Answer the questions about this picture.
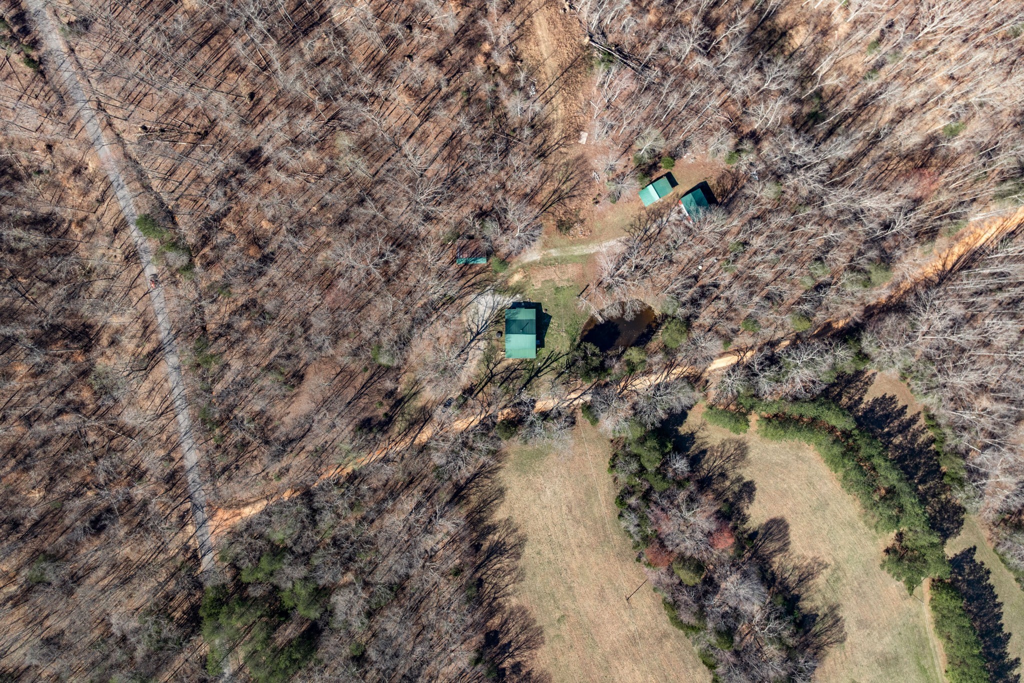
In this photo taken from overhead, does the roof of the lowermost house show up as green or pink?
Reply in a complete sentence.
The color of the roof of the lowermost house is green.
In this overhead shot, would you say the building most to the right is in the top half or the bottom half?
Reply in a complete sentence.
The building most to the right sits in the top half of the picture.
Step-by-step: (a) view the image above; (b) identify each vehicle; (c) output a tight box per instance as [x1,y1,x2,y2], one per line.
[442,398,455,410]
[148,274,157,290]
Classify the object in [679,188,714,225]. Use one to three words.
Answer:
building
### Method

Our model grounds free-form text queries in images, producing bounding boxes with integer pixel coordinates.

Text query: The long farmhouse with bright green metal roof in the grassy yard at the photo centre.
[501,308,539,358]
